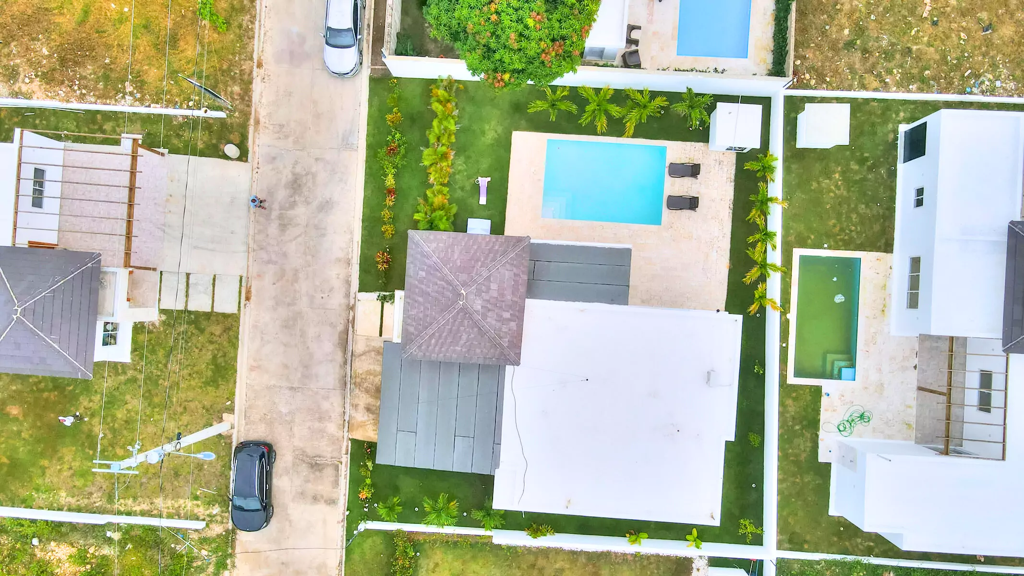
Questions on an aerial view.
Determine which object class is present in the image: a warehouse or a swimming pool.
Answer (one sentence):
I can see a swimming pool in this picture.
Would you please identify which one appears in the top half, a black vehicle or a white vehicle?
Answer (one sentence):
Visible in the top half is a white vehicle.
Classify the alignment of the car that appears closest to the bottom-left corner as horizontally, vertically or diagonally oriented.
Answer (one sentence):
In this picture, the car that appears closest to the bottom-left corner is oriented vertically.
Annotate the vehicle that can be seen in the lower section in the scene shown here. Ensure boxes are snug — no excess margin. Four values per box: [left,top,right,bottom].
[225,439,274,532]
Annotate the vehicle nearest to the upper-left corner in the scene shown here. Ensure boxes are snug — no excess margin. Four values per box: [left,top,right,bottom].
[317,0,365,77]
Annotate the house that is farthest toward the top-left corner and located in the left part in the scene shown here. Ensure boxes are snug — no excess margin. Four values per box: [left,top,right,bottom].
[0,129,159,381]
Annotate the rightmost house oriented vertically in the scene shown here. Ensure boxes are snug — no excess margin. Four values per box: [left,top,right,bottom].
[825,109,1024,560]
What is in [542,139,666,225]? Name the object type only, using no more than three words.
swimming pool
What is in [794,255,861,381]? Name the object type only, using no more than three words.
swimming pool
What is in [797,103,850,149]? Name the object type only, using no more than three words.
shed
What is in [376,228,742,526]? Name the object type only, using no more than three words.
house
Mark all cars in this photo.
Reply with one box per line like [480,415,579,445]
[317,0,365,77]
[225,439,274,532]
